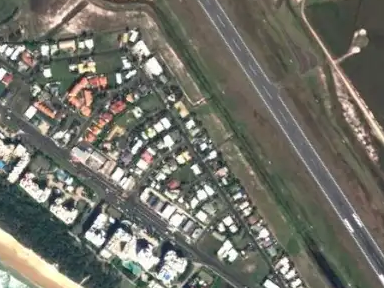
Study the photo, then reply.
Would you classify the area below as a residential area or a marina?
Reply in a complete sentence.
The picture captures a residential area.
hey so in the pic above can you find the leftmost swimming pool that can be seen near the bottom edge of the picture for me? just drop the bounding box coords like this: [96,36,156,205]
[123,260,143,276]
